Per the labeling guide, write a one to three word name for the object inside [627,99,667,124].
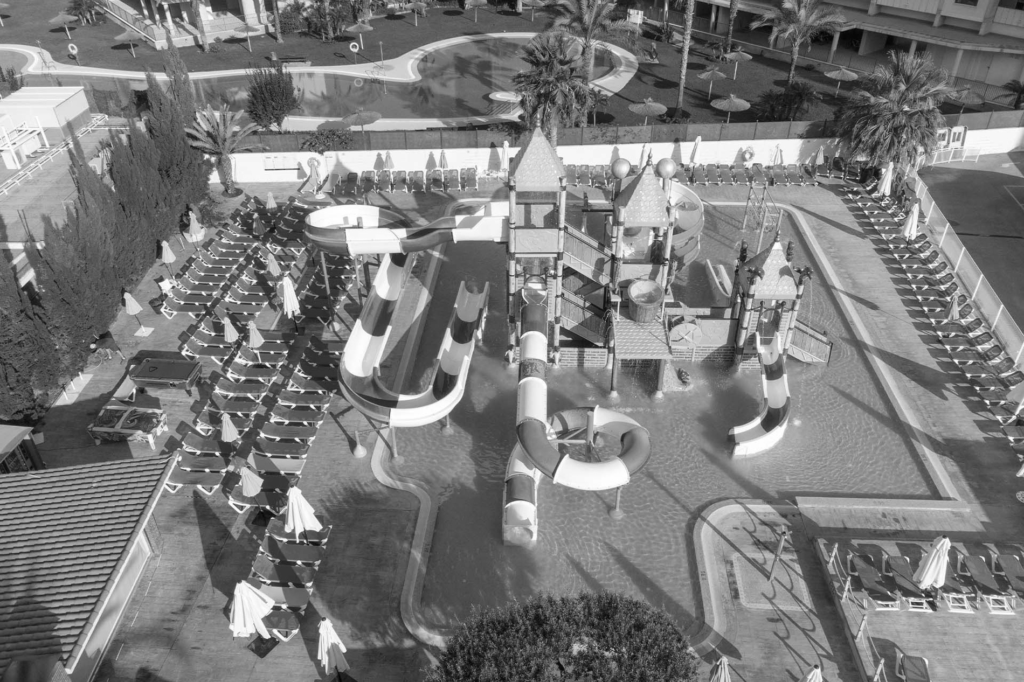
umbrella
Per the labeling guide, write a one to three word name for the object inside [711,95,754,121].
umbrella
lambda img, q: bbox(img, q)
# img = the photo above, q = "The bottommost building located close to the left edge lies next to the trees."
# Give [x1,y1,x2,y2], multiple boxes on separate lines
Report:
[0,451,188,682]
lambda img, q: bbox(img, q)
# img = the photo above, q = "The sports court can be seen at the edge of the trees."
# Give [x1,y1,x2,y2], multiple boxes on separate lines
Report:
[922,168,1024,333]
